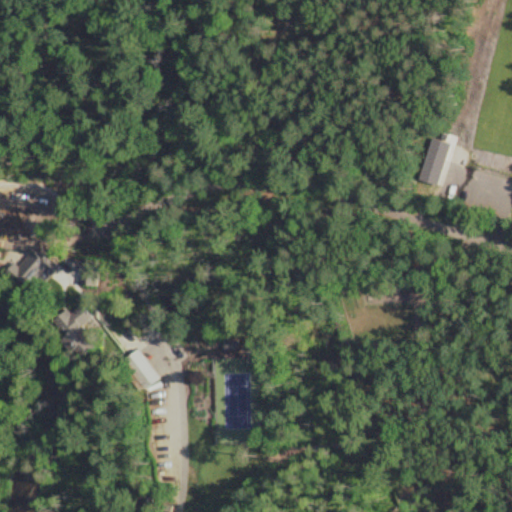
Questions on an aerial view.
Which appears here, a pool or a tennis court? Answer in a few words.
tennis court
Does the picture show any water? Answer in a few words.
No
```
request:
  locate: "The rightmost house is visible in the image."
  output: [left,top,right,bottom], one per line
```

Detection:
[418,138,456,187]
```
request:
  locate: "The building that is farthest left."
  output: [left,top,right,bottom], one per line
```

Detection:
[10,250,48,284]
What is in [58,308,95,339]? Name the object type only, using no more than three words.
house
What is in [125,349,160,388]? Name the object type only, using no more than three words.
building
